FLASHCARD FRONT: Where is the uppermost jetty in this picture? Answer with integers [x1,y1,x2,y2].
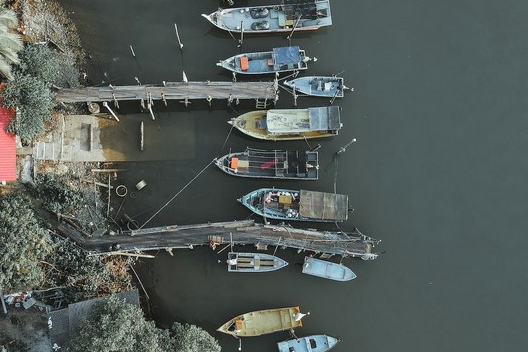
[56,78,279,113]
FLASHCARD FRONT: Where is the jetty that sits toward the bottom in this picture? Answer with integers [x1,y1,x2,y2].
[59,217,386,259]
